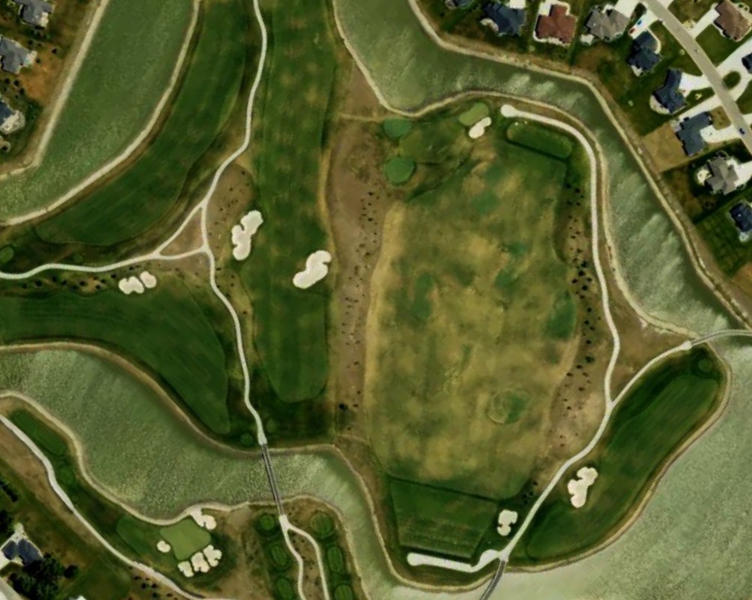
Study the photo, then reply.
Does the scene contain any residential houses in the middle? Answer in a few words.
No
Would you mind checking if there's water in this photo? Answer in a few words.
Yes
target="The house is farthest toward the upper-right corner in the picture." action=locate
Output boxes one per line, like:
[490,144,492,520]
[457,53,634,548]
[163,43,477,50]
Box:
[712,0,752,39]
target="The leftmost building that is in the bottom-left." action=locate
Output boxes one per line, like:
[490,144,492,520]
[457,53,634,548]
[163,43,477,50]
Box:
[0,534,45,567]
